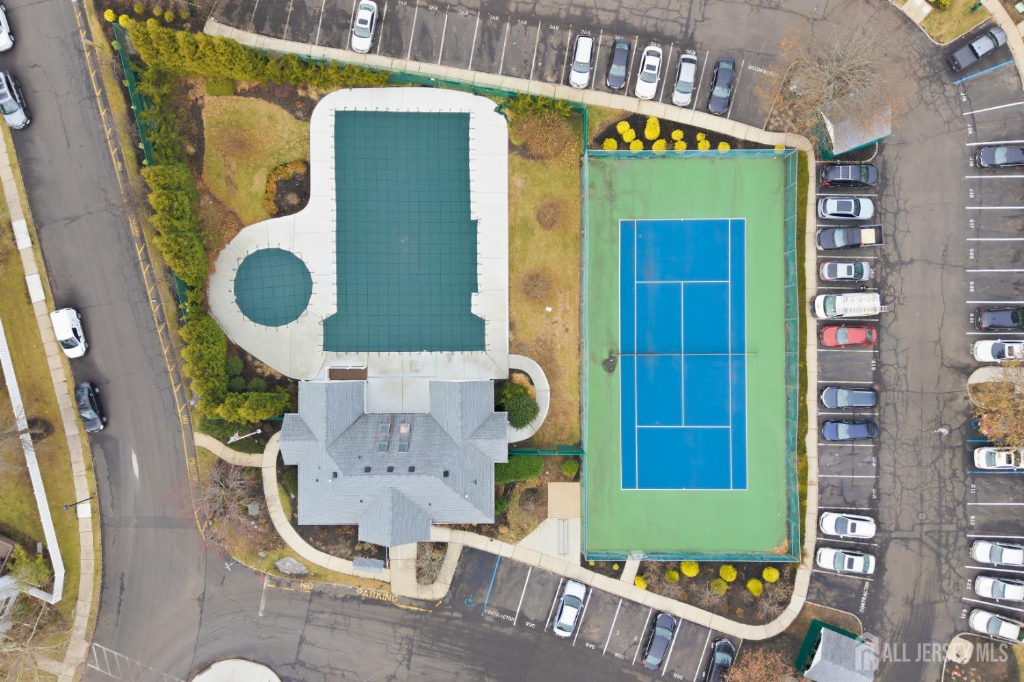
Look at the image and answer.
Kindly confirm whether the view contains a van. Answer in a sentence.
Yes, there's a van here.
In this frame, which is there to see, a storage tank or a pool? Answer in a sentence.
There is a pool in the scene.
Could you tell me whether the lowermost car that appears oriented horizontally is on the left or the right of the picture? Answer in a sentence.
It is on the right.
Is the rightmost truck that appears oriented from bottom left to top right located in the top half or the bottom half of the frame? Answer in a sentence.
The top half of the photo is where the rightmost truck that appears oriented from bottom left to top right is.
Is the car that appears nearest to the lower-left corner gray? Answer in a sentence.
Yes, the car that appears nearest to the lower-left corner appears gray.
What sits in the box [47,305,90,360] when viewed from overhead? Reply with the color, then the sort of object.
white van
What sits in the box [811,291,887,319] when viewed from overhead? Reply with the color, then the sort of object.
white van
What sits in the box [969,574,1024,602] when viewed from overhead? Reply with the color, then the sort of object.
white car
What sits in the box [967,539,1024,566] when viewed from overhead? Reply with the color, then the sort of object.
white car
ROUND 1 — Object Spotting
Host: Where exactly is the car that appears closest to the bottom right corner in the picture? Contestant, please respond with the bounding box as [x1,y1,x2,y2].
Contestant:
[966,608,1024,641]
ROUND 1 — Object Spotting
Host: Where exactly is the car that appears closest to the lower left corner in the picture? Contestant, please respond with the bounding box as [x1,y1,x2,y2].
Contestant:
[76,382,109,432]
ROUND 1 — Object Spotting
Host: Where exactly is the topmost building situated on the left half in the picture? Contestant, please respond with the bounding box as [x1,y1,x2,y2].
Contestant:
[279,381,508,547]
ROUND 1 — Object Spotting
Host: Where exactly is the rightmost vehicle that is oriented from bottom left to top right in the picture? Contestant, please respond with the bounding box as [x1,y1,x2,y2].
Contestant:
[941,25,1009,77]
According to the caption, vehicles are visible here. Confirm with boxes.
[972,305,1024,332]
[0,74,33,130]
[350,0,378,56]
[971,338,1024,364]
[817,511,875,538]
[553,579,585,637]
[670,53,698,109]
[941,25,1009,77]
[820,384,877,411]
[706,56,735,116]
[634,45,662,102]
[566,34,595,91]
[811,291,887,319]
[814,546,873,574]
[971,143,1024,169]
[819,160,877,188]
[817,194,873,221]
[816,223,884,250]
[969,574,1024,602]
[642,611,674,669]
[76,382,109,432]
[819,418,876,443]
[967,539,1024,566]
[47,305,90,360]
[966,608,1024,641]
[819,322,876,348]
[703,637,736,682]
[819,259,869,284]
[604,37,631,92]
